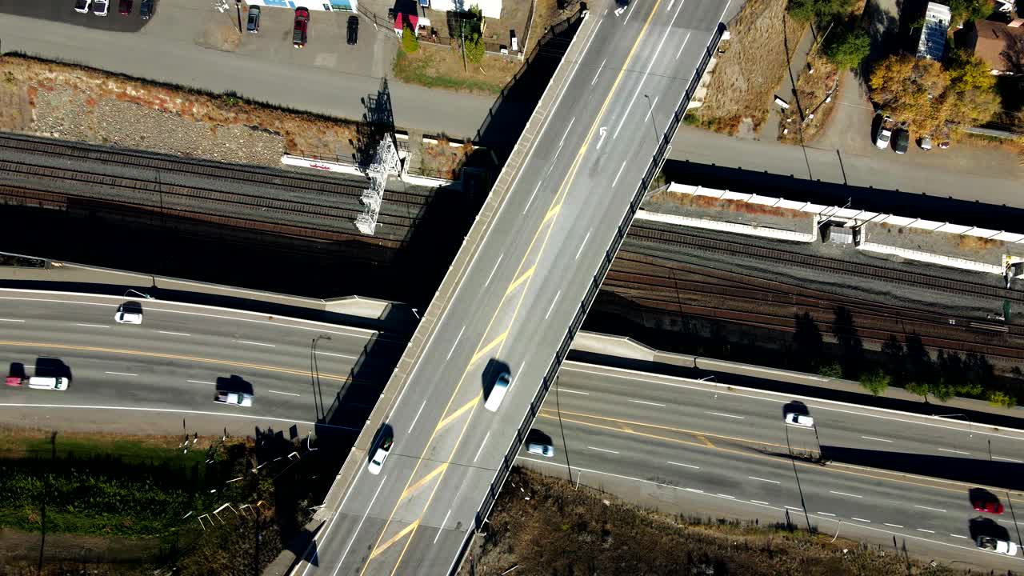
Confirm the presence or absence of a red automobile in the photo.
Yes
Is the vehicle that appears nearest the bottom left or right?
right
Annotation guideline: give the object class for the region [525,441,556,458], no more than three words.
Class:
car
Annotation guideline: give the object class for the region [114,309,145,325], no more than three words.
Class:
car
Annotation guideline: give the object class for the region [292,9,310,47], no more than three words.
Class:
vehicle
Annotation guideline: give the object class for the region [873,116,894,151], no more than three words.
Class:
truck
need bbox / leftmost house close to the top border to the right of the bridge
[911,2,951,65]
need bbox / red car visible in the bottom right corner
[970,499,1003,516]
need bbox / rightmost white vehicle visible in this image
[974,535,1017,555]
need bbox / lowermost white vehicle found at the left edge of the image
[25,375,73,392]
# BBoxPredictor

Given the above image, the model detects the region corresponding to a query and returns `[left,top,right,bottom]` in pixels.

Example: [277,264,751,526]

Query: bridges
[318,0,725,532]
